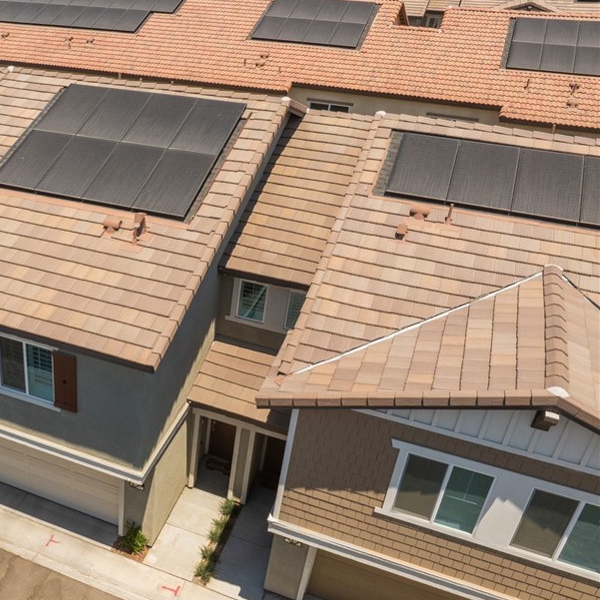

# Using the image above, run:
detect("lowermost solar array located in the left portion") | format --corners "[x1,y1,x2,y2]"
[0,86,244,222]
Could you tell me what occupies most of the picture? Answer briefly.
buildings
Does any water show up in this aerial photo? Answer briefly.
No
